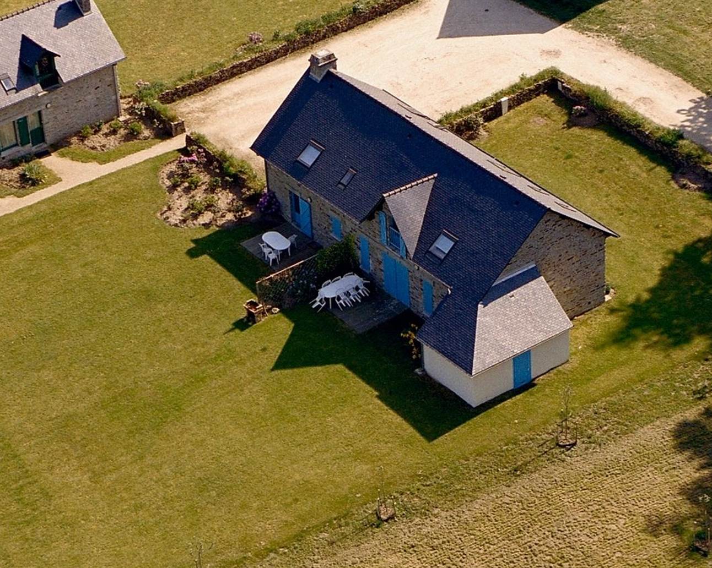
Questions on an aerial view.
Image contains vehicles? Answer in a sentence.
No, there appears to be no vehicle in this shot.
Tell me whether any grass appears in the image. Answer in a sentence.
Yes, there's grass in this view.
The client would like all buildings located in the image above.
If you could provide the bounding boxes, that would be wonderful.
[0,0,126,167]
[250,45,616,408]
